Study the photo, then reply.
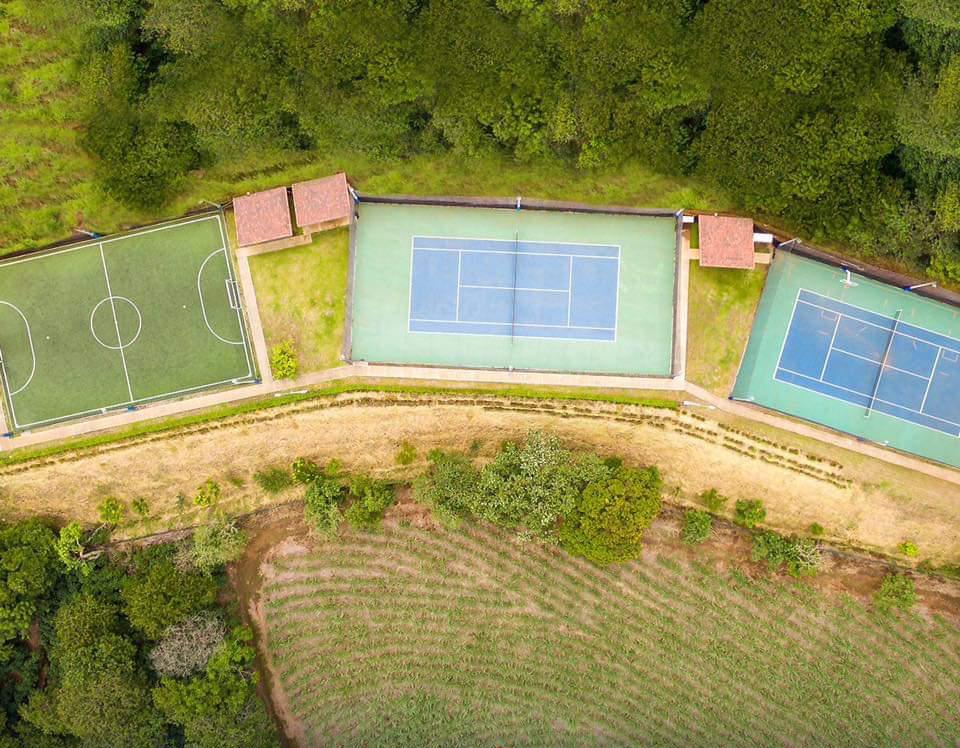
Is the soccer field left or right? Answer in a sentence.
You can find the soccer field on the left side of the picture.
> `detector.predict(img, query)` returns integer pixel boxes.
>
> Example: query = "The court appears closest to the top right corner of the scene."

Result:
[734,250,960,468]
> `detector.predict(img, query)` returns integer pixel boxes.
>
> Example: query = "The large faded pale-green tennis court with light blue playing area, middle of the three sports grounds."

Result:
[350,203,676,377]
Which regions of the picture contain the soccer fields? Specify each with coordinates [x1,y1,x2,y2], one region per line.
[0,208,262,435]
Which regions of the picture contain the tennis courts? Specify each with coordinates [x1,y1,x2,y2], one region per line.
[350,203,676,377]
[734,250,960,468]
